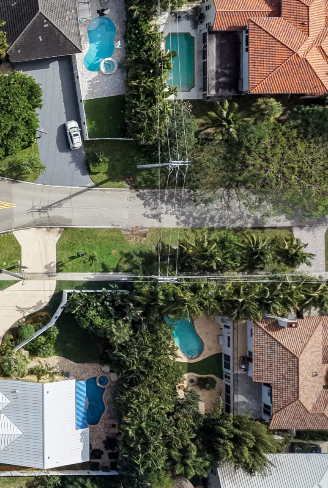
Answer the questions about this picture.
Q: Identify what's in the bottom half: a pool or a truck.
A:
pool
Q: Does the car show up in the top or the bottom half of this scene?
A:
top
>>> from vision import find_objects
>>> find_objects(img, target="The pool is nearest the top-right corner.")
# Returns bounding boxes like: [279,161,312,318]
[159,32,196,93]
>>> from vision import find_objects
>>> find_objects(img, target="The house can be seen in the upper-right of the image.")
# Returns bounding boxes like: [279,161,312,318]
[202,0,328,95]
